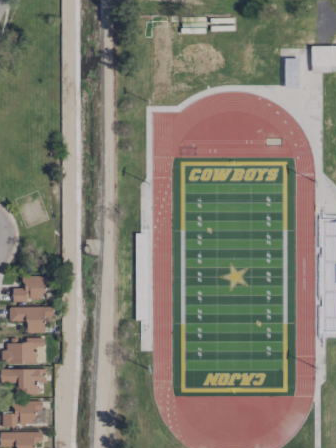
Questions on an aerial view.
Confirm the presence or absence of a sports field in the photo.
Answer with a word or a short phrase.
Yes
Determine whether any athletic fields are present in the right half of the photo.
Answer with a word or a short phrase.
Yes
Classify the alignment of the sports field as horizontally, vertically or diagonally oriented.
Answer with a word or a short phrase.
vertically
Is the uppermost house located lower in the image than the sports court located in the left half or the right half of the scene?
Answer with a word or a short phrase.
left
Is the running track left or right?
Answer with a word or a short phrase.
right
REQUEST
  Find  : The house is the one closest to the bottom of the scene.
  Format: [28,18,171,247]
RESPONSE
[0,432,42,448]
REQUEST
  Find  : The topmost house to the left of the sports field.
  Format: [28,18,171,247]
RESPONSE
[12,276,44,302]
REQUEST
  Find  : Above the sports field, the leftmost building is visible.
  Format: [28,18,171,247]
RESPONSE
[285,57,300,88]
